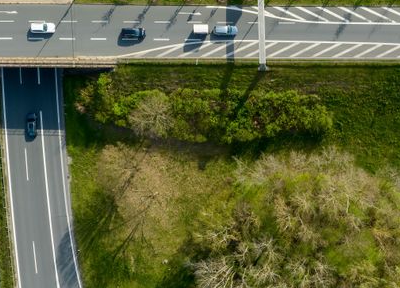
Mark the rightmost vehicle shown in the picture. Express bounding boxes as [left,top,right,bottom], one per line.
[212,24,238,36]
